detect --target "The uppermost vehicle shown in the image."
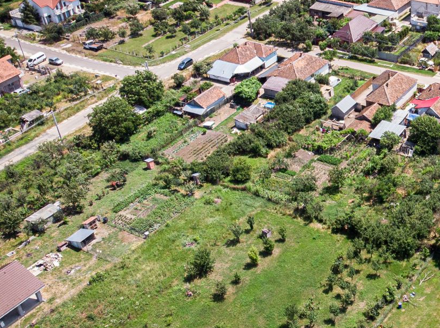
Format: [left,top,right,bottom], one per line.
[79,35,106,50]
